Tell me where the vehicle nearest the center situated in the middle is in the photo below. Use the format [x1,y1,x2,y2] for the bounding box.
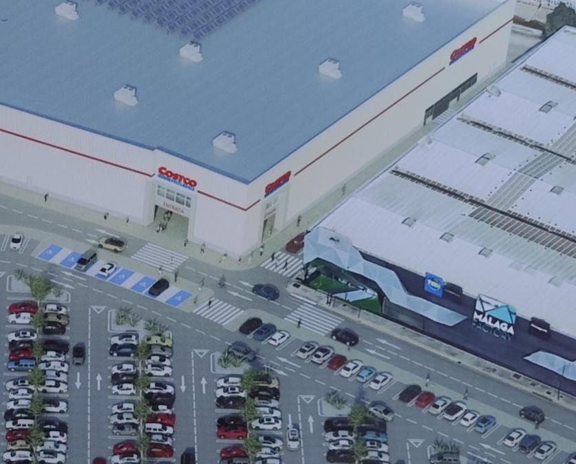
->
[286,233,304,253]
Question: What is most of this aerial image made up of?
buildings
